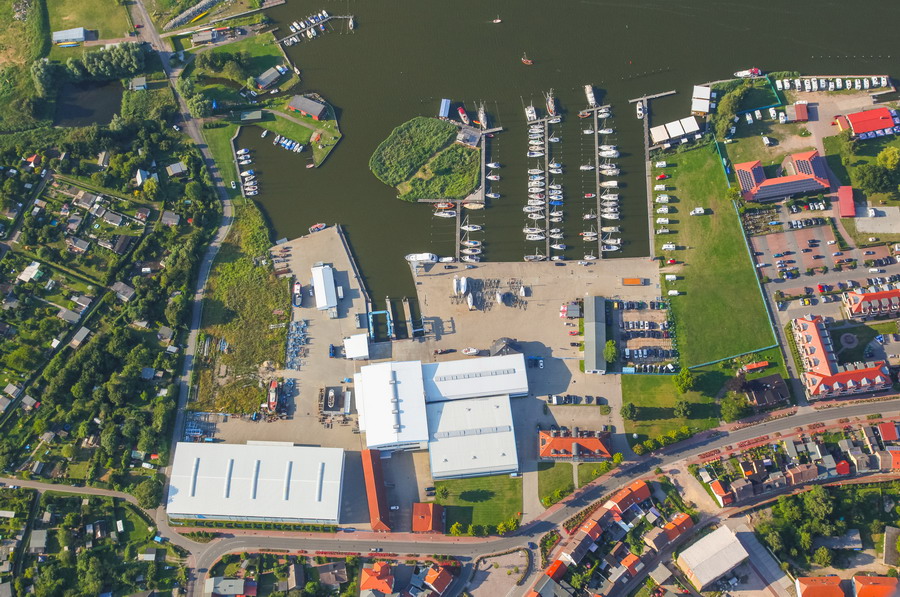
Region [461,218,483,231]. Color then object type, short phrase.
white boat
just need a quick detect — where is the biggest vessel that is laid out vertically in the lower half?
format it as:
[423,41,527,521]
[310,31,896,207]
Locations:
[265,375,281,413]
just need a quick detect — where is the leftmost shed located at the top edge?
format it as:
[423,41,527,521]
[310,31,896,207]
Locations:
[53,26,84,43]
